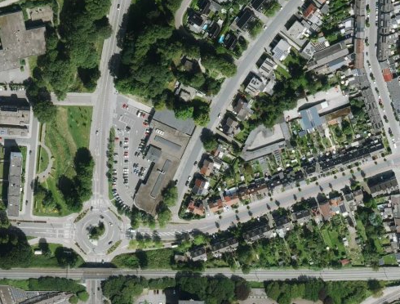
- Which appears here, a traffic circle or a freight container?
traffic circle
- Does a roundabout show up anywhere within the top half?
No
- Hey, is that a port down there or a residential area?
residential area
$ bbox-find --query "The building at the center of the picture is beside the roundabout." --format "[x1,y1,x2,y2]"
[135,121,193,213]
